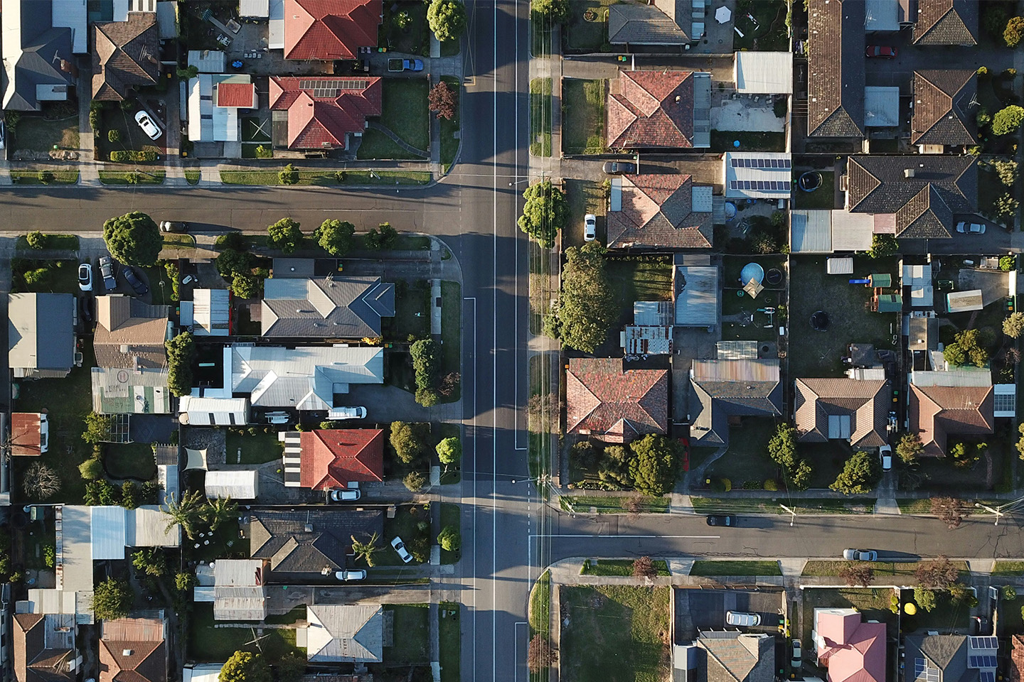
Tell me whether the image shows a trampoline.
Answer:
Yes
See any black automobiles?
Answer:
Yes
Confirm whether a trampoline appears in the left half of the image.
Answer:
No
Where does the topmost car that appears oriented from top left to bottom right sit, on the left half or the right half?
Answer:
left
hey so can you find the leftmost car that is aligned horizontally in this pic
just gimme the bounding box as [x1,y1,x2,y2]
[159,219,191,234]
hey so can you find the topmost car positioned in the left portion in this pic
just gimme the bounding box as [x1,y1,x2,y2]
[387,56,425,73]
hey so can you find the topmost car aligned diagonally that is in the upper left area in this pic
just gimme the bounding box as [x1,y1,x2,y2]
[135,108,162,141]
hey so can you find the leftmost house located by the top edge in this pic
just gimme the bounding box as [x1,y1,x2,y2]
[0,0,92,112]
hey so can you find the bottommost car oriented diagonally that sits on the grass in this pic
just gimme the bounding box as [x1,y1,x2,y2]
[390,537,413,565]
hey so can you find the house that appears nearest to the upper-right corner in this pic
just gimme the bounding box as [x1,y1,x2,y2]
[899,0,979,48]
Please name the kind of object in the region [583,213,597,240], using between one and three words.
car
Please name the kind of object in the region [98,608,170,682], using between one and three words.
house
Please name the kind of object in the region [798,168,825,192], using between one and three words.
trampoline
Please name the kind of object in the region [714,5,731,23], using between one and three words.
umbrella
